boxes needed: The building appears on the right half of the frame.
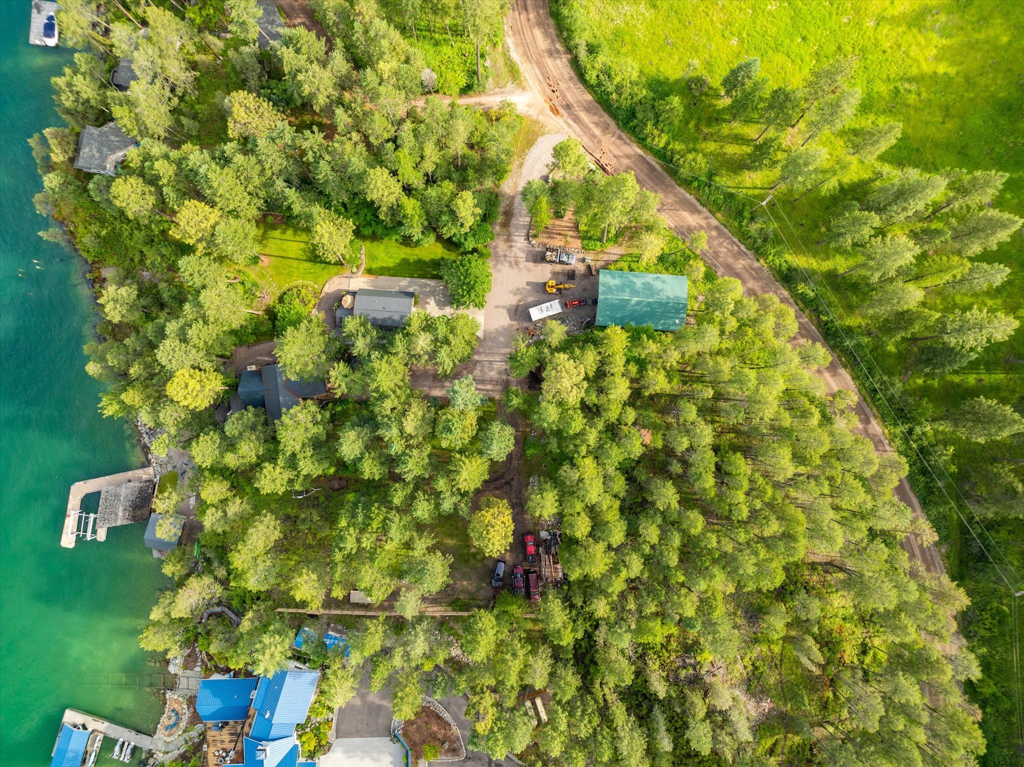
[595,270,688,332]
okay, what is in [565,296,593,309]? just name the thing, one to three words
vehicle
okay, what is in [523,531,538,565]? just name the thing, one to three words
vehicle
